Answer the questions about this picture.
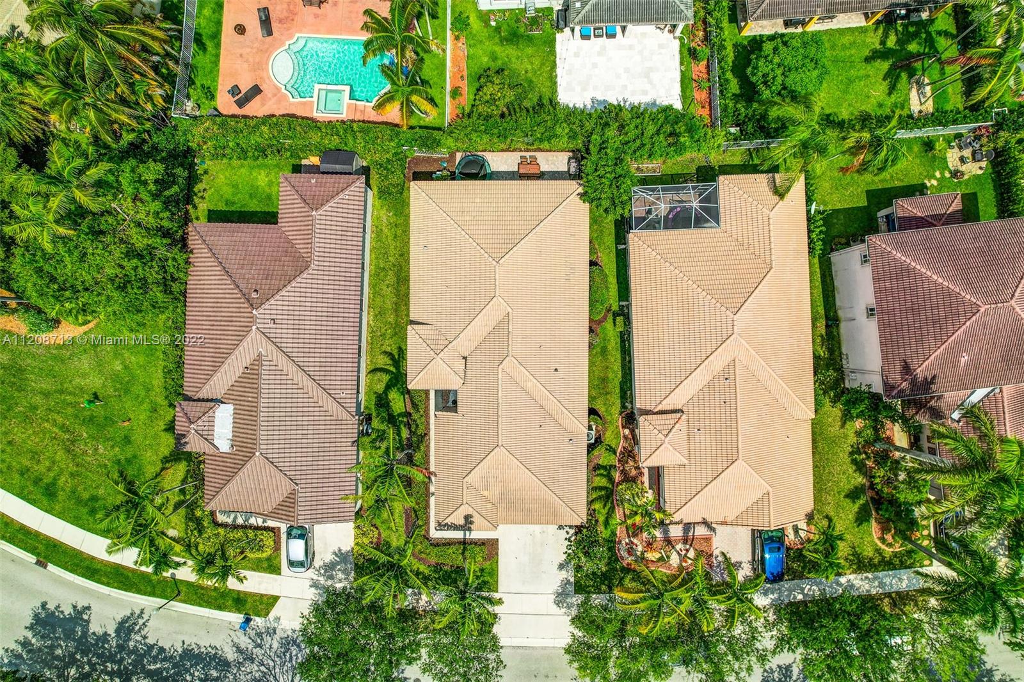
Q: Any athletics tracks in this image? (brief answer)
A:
No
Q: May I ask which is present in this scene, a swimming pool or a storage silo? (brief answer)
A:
swimming pool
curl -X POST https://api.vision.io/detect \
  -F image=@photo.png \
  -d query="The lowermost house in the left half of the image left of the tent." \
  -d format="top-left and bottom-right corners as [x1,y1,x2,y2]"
[173,172,366,527]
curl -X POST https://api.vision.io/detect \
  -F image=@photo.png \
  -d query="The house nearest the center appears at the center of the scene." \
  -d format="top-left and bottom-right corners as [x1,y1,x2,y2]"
[406,179,590,533]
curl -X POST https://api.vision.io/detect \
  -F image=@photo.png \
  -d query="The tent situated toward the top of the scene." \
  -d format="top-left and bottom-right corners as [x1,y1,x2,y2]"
[458,158,490,181]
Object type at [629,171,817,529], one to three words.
house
